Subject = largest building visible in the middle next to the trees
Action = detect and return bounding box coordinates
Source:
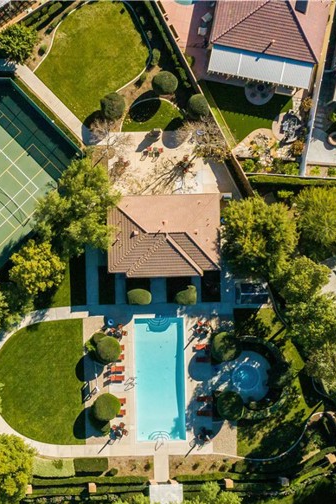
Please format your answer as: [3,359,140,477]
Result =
[107,192,221,277]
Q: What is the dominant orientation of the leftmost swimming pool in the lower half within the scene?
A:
up and down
